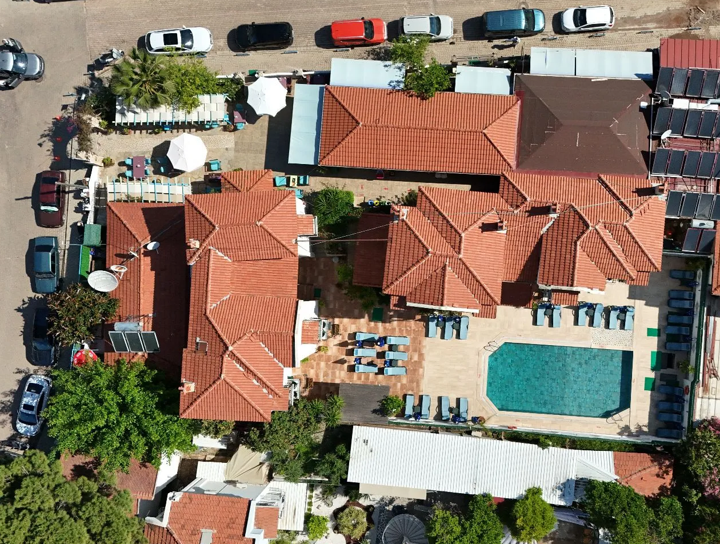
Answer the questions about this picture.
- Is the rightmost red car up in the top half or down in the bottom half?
top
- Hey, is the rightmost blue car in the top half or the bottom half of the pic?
top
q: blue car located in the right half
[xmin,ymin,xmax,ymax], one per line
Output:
[483,5,544,40]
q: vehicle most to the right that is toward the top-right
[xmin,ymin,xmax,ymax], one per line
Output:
[559,4,615,35]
